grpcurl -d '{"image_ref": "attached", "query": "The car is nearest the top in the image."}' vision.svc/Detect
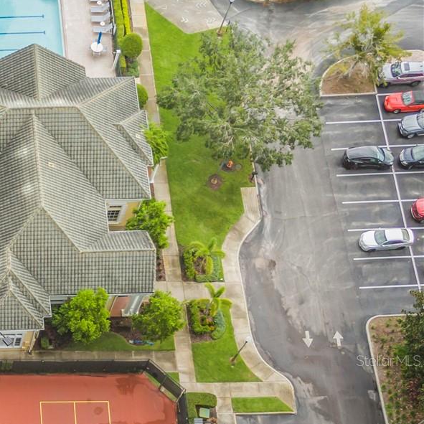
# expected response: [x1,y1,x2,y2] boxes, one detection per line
[379,63,424,87]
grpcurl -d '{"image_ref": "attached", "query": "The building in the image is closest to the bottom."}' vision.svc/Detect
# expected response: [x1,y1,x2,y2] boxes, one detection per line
[0,47,160,349]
